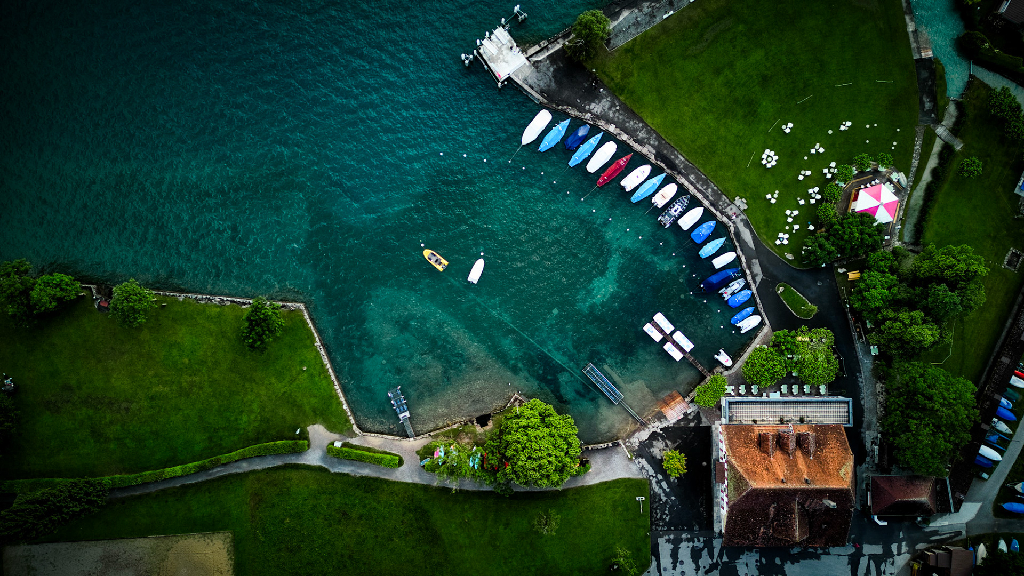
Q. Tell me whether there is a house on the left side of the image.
No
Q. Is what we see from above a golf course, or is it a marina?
marina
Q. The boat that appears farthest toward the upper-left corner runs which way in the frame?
diagonally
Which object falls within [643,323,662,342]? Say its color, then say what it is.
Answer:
white boat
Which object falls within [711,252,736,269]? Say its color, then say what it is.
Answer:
white boat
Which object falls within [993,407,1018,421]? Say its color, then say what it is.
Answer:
blue boat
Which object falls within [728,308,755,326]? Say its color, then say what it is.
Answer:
blue boat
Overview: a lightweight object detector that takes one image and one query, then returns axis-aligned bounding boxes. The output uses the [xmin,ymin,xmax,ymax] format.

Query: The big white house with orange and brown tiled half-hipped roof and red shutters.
[710,396,860,546]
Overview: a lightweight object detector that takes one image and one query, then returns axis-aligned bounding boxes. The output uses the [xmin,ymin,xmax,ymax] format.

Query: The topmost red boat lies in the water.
[596,153,633,188]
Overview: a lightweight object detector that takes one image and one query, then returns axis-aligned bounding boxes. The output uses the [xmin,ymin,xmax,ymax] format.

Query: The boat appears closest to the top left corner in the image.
[423,250,448,271]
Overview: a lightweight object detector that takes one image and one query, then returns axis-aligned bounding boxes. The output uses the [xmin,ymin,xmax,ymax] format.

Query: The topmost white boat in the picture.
[521,107,551,145]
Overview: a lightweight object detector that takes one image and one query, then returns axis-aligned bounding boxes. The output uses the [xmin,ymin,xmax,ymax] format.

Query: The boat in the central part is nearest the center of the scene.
[468,258,484,285]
